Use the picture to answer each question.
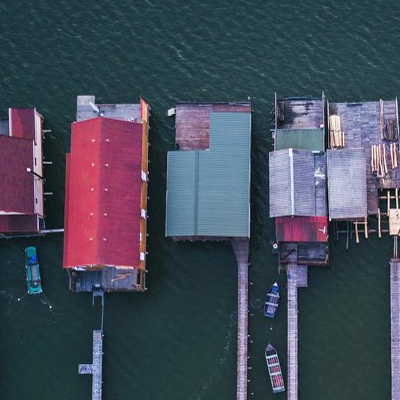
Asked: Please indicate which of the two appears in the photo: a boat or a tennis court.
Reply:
boat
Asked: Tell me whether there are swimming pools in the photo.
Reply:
No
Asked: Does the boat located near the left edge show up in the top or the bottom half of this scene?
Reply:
bottom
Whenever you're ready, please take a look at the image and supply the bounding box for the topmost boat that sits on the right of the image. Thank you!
[262,282,279,318]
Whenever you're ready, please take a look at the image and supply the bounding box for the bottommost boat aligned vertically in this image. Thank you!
[265,343,286,394]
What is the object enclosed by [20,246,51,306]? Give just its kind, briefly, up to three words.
boat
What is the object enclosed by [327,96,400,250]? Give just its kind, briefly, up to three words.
house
